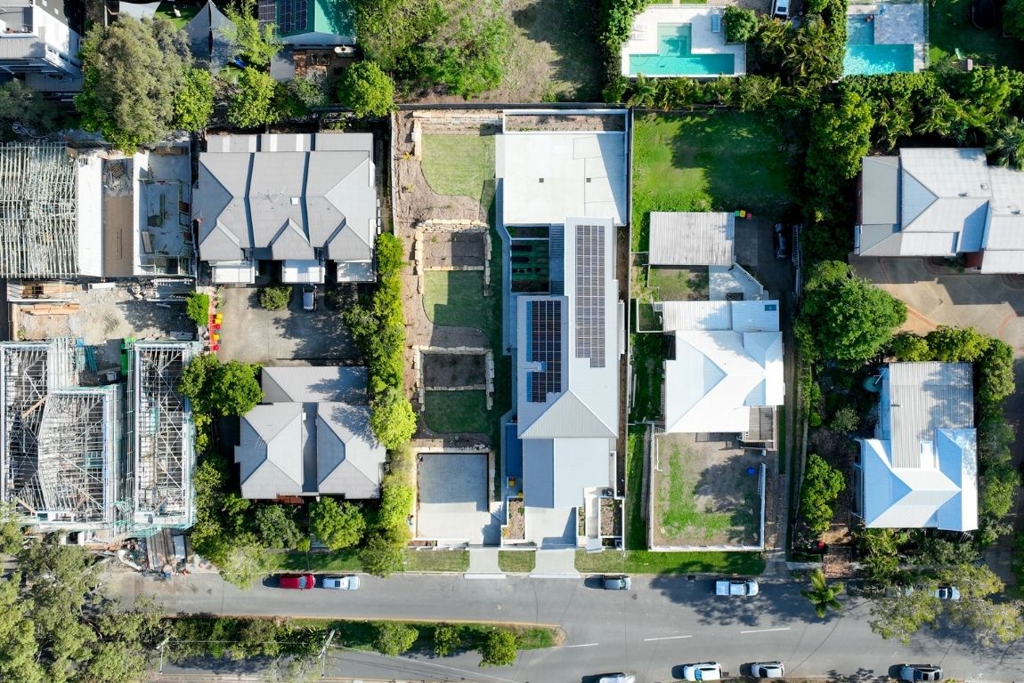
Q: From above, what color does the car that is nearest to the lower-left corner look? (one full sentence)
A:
The car that is nearest to the lower-left corner is red.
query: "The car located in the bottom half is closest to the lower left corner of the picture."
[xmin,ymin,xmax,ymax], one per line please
[276,574,314,594]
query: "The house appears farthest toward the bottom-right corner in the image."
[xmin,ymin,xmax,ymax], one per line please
[847,361,979,540]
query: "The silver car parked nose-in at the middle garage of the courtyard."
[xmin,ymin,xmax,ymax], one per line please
[298,284,316,313]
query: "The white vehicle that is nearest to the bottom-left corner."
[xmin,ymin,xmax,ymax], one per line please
[321,575,359,595]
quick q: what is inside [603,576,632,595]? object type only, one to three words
car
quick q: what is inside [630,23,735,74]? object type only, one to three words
swimming pool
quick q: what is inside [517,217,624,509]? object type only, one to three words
house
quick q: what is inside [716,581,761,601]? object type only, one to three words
vehicle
